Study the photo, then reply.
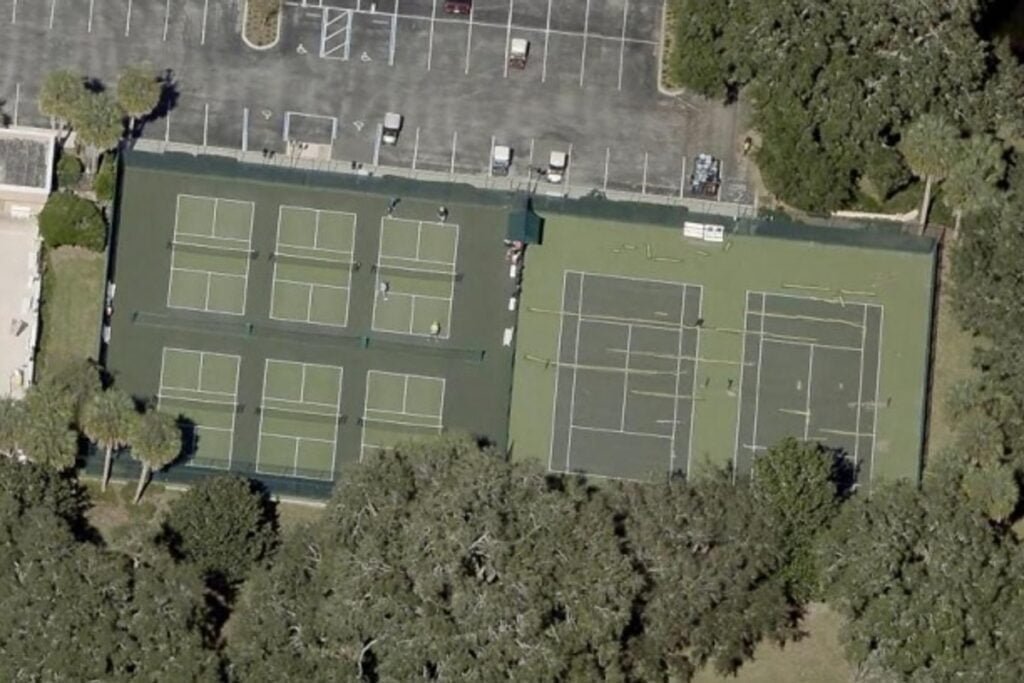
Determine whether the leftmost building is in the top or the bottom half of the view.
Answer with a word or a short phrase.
top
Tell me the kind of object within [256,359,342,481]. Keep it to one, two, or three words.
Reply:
sports court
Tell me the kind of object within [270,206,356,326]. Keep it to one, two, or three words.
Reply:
sports court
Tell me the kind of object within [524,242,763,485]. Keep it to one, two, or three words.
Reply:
tennis court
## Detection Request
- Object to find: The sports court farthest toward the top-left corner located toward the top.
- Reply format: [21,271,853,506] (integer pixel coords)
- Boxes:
[168,195,254,315]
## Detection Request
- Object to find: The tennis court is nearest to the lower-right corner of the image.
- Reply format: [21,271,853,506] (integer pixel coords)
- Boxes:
[734,282,887,505]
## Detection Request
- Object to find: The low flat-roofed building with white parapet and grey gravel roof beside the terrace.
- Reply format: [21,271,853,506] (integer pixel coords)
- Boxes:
[0,127,55,220]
